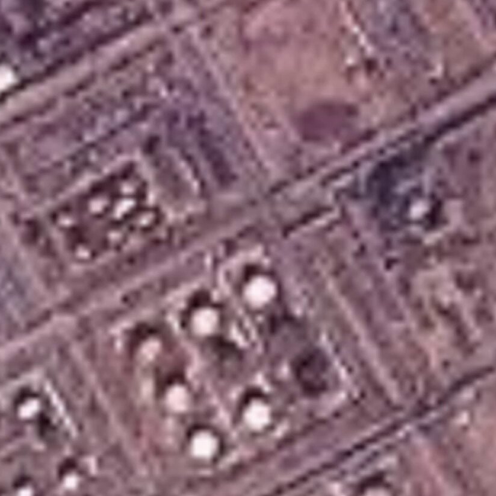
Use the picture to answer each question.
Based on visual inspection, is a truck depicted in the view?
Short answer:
No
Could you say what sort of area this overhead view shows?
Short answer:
industrial area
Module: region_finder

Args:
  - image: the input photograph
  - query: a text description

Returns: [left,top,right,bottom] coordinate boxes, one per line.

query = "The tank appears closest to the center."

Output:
[237,269,281,312]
